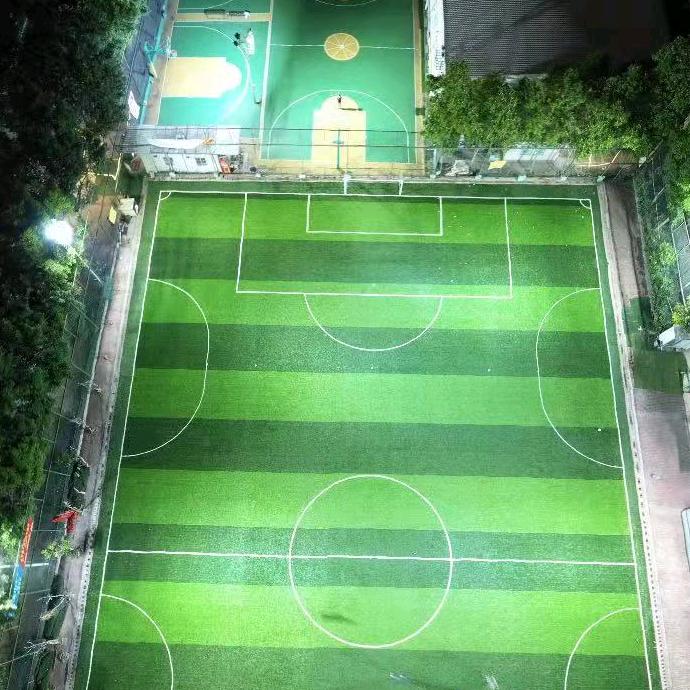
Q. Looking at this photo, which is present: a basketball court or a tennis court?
basketball court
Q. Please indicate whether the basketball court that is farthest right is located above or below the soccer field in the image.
above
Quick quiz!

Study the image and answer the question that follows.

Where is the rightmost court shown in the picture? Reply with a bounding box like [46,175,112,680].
[257,0,429,172]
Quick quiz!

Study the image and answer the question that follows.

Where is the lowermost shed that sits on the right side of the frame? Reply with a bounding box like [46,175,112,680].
[653,325,690,366]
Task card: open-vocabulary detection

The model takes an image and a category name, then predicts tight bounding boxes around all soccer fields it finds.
[70,177,665,690]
